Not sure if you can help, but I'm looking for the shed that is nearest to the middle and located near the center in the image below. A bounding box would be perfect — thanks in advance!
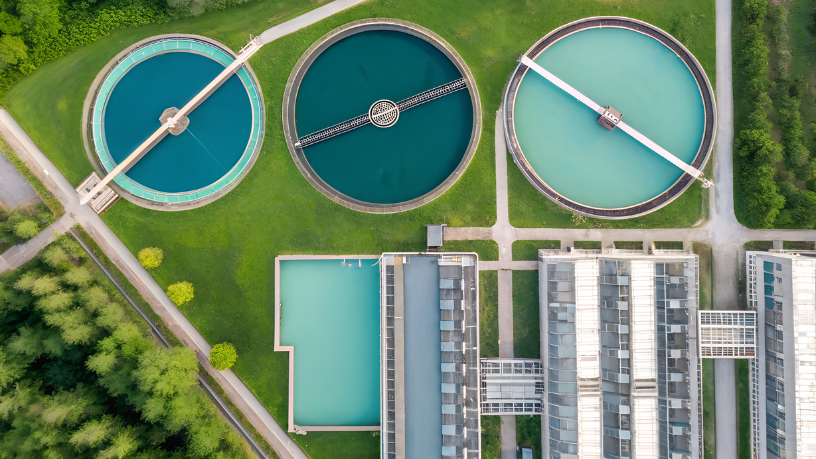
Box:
[426,225,446,252]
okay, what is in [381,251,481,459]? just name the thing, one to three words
building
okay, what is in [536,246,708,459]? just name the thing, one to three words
building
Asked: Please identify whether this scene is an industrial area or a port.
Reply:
industrial area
